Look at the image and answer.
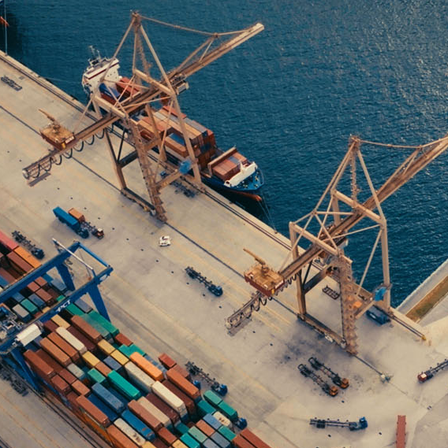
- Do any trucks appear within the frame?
Yes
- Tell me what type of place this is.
port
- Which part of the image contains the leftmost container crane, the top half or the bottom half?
bottom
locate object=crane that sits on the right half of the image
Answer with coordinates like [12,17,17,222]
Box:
[221,129,448,357]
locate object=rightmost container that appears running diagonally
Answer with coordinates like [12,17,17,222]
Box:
[360,304,394,333]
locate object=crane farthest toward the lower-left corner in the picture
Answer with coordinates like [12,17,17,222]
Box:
[0,239,114,394]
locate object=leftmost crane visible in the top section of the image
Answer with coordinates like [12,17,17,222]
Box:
[14,5,263,224]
